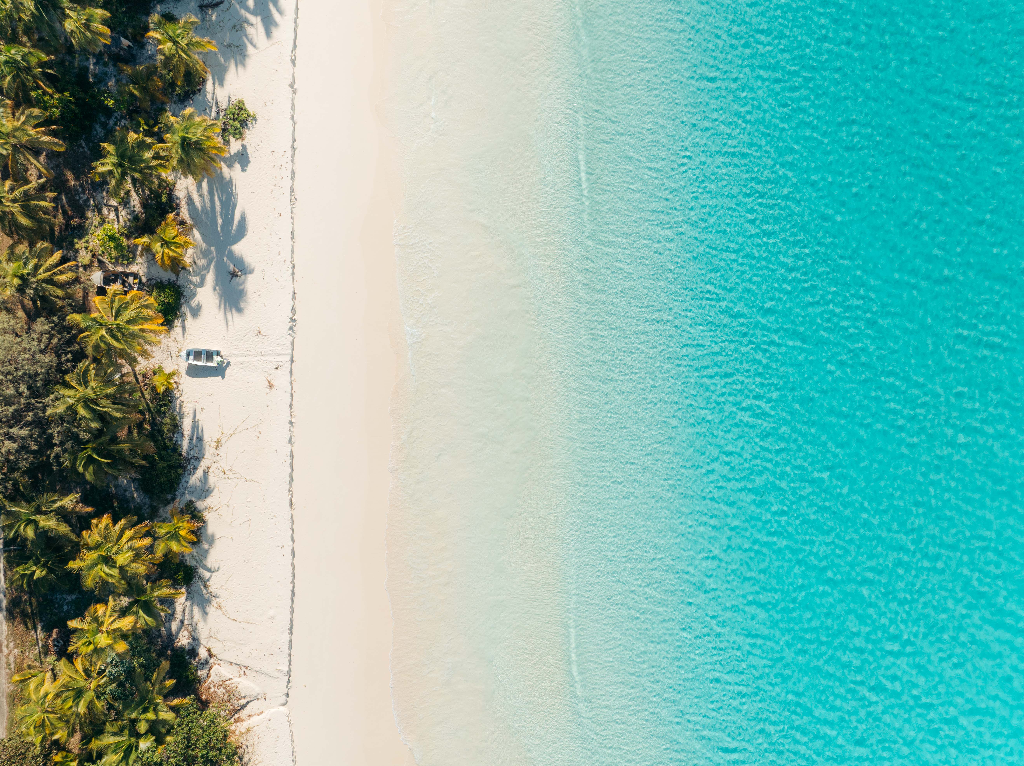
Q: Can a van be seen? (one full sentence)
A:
No, the frame has no van in it.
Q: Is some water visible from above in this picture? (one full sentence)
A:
Yes, some water is visible.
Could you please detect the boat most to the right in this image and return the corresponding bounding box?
[179,348,228,366]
